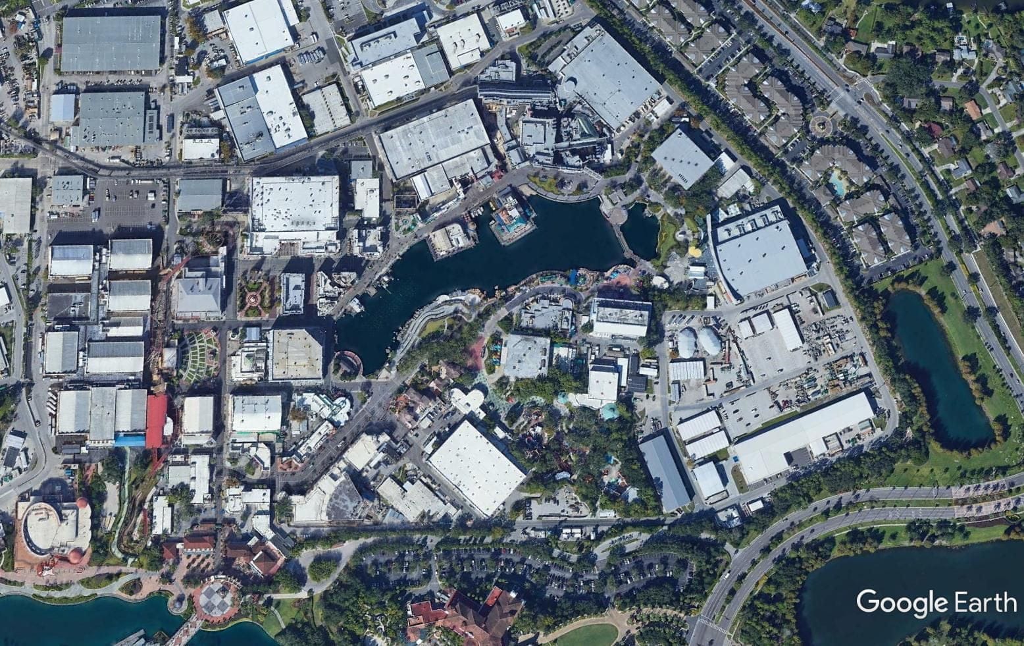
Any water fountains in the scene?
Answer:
Yes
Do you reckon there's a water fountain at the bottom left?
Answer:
Yes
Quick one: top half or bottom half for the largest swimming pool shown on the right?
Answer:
top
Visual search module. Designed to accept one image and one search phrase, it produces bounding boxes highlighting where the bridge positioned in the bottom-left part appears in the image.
[159,611,210,646]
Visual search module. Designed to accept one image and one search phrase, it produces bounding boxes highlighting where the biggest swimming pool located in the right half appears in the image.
[829,170,858,198]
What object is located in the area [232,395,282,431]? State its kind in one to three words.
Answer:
building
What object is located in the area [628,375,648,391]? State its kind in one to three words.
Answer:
shed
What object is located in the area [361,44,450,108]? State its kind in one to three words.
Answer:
building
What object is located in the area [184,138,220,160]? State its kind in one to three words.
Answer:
shed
